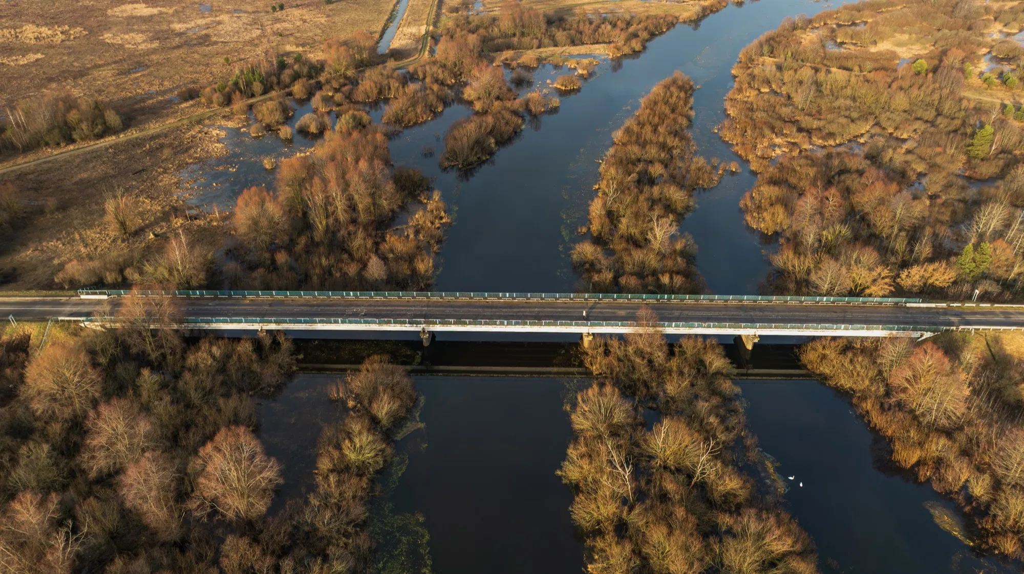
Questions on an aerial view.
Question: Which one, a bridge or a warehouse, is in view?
bridge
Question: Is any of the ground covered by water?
Yes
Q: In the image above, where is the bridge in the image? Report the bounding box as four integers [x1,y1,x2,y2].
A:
[63,294,955,351]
